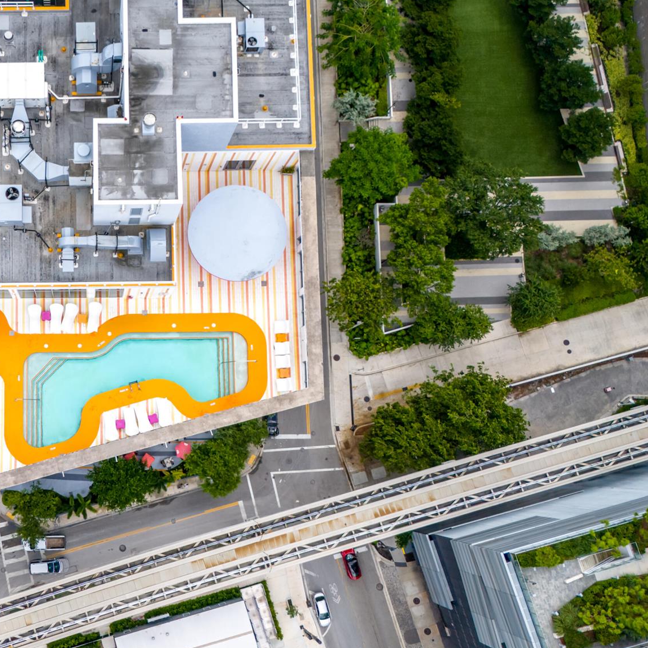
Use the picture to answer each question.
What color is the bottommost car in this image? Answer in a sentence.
The bottommost car looks white in the image.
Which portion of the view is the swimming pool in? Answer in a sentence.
The swimming pool appears toward the left of the photo.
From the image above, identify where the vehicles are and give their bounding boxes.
[30,557,69,575]
[339,549,362,582]
[23,534,67,551]
[263,407,281,443]
[310,589,331,629]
